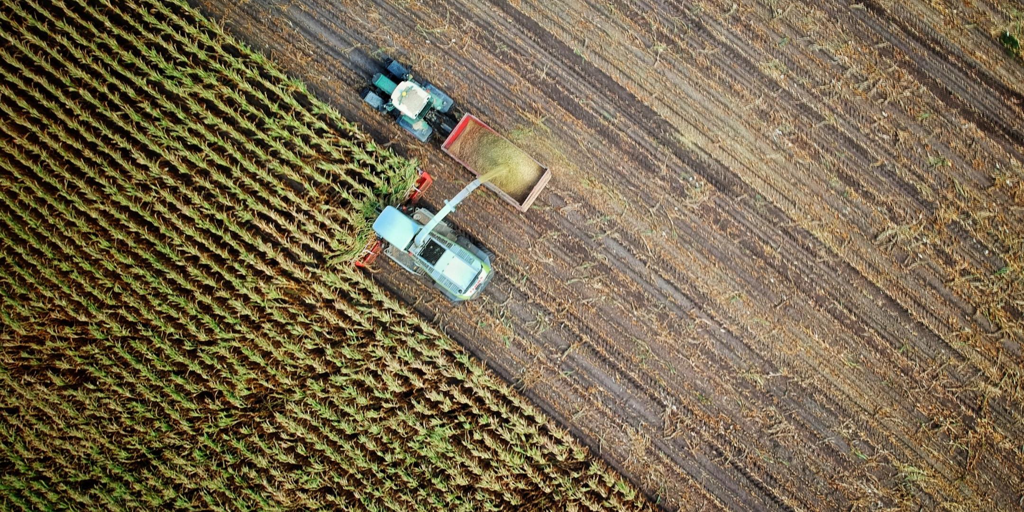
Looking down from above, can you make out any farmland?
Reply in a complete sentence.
Yes, farmland can be seen from above here.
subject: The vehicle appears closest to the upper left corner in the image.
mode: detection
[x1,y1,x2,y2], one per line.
[362,60,455,148]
